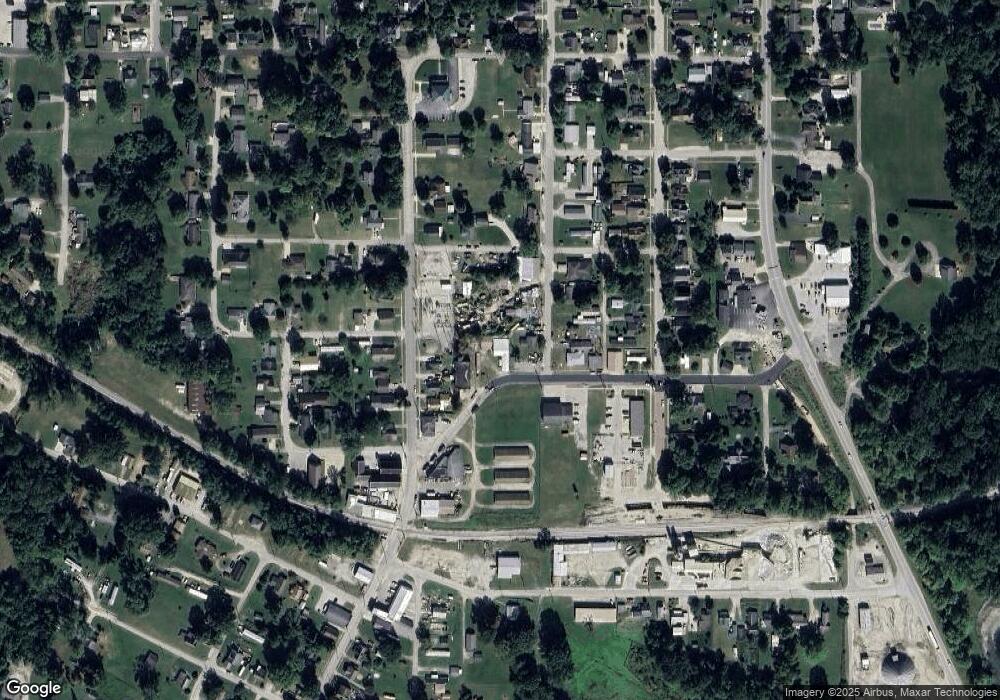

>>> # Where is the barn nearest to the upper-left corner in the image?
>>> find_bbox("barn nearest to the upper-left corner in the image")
[13,17,27,49]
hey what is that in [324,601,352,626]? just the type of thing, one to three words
barn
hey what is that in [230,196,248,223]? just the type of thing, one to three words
house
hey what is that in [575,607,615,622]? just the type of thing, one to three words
shed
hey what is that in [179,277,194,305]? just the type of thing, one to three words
building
